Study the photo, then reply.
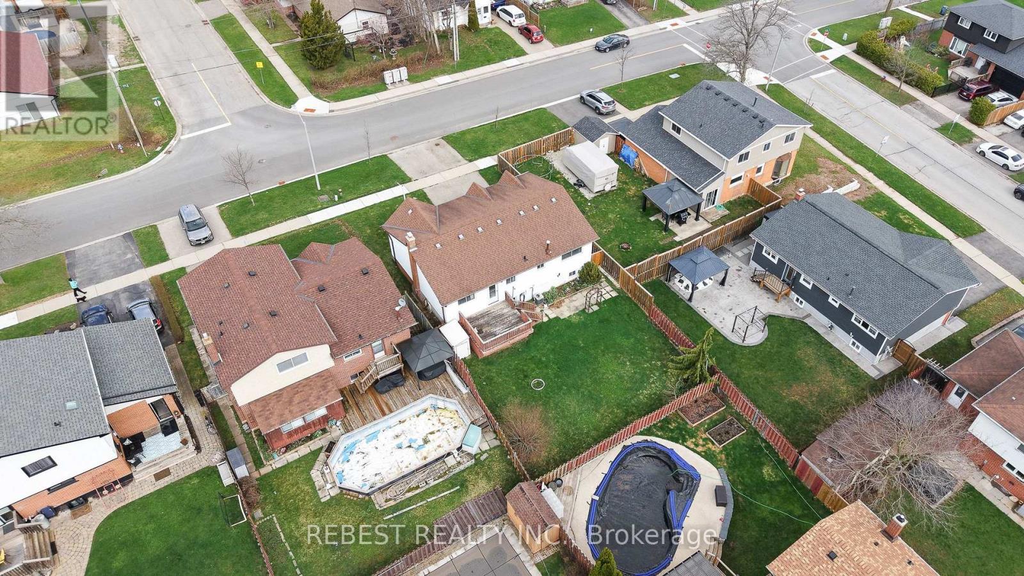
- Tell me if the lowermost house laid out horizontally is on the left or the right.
right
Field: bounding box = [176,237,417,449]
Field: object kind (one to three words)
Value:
house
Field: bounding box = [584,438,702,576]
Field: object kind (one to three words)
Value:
swimming pool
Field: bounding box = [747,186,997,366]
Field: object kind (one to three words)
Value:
house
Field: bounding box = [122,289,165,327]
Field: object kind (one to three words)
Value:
car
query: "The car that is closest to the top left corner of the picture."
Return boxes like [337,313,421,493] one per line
[172,202,213,248]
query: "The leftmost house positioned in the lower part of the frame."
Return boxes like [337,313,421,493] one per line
[0,317,186,519]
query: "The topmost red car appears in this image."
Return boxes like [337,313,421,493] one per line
[517,22,546,42]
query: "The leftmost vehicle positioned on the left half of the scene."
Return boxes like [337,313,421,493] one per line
[74,293,118,328]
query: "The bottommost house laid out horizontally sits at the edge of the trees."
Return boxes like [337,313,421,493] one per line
[766,499,939,576]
